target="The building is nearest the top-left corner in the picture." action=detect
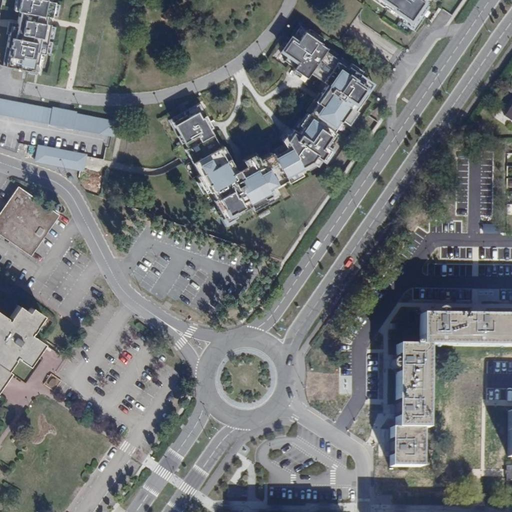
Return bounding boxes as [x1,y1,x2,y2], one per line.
[6,0,60,78]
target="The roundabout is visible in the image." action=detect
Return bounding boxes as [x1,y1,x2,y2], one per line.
[193,325,300,432]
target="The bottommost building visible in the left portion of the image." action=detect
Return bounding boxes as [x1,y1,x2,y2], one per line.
[0,308,50,391]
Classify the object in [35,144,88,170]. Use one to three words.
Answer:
building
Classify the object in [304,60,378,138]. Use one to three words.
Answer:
building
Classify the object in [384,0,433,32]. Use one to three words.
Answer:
house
